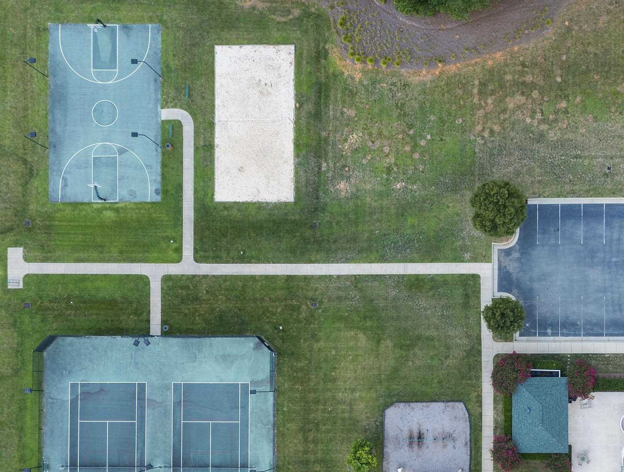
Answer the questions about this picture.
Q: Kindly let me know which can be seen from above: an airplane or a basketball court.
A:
basketball court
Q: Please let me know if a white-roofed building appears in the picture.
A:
No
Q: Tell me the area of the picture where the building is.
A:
bottom right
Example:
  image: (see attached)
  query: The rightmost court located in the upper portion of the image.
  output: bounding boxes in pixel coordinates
[214,43,296,202]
